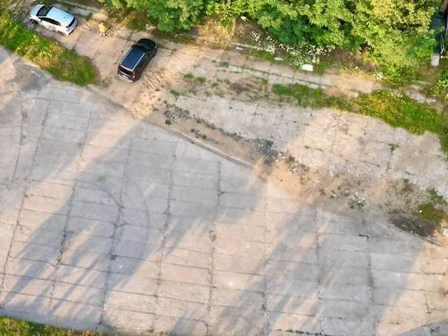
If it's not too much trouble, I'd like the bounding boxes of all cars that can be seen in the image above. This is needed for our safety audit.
[25,0,81,35]
[114,29,162,81]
